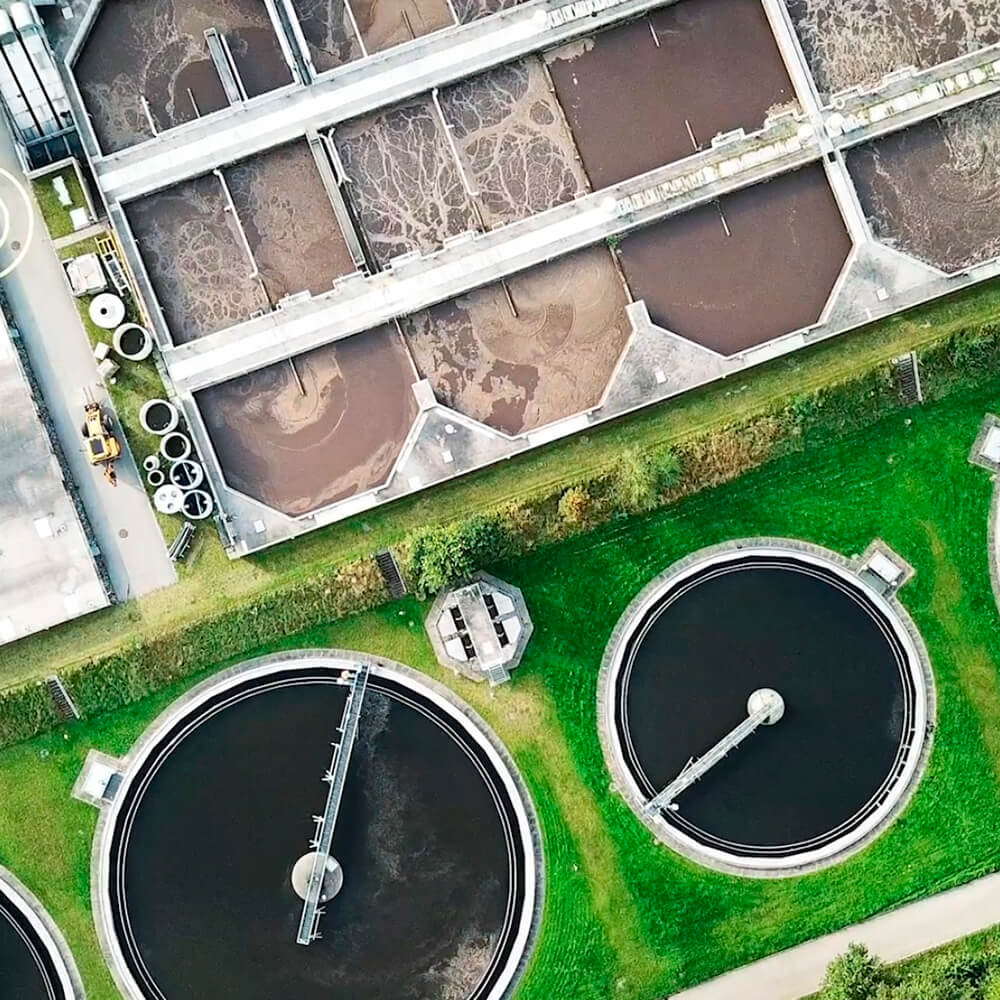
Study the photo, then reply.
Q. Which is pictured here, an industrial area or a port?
industrial area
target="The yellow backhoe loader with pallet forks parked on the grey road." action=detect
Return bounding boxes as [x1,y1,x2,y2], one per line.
[77,387,123,485]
